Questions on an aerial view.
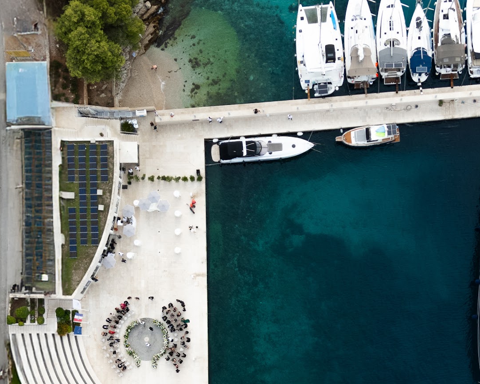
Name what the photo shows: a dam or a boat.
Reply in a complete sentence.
It is a boat that can be seen here.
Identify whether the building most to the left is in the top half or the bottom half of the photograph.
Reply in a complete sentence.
Seen from above, the building most to the left lies in the top half of the view.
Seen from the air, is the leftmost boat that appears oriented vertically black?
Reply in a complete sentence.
No, the leftmost boat that appears oriented vertically is actually white.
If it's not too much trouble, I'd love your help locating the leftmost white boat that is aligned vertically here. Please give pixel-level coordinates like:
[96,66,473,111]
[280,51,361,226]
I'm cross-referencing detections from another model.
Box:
[294,0,345,100]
